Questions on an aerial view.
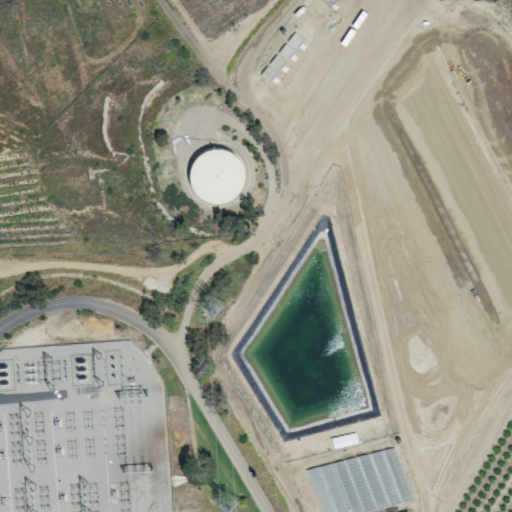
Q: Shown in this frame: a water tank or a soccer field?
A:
water tank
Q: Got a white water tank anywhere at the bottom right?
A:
No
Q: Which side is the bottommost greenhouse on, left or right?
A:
right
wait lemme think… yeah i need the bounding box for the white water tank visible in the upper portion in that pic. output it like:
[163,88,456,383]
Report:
[190,148,246,206]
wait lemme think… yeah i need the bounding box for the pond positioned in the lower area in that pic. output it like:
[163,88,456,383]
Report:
[232,214,380,440]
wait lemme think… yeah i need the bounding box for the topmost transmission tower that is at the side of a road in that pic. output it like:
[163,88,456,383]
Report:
[202,306,224,320]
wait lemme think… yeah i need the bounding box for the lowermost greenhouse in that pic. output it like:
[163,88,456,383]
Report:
[306,448,414,512]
